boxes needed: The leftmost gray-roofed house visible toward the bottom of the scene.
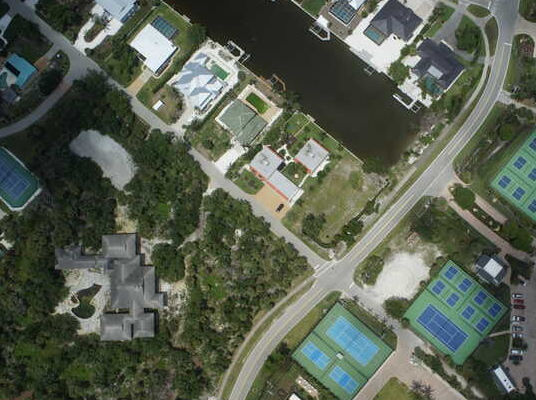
[54,234,165,342]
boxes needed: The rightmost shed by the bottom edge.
[486,365,515,395]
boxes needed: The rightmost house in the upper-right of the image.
[413,39,465,92]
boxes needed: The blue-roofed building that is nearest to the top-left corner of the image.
[7,52,39,90]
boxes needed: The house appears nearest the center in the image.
[249,146,304,204]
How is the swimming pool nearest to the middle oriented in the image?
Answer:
diagonally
